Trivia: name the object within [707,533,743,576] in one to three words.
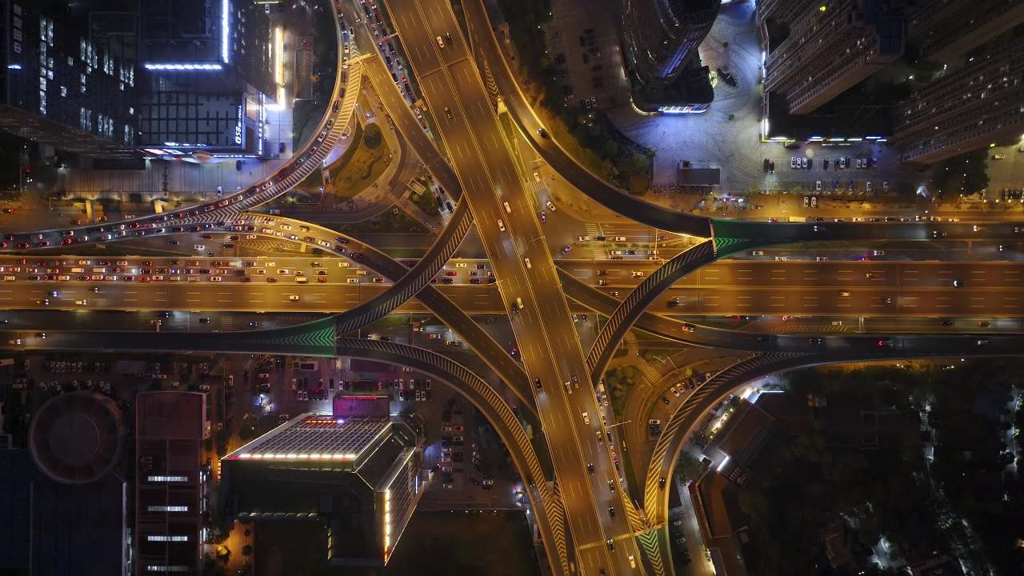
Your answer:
house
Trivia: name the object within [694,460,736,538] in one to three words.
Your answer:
house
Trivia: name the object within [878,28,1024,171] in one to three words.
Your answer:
building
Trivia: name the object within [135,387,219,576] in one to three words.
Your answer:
building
